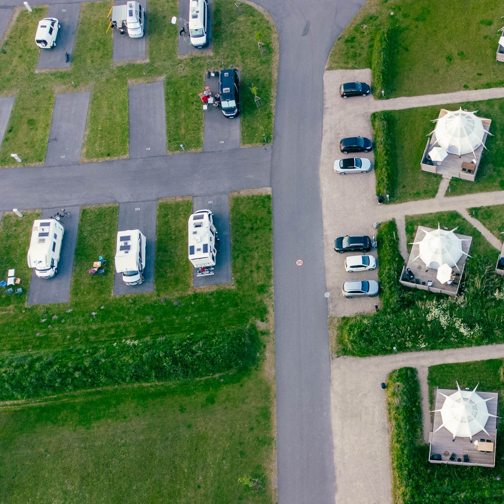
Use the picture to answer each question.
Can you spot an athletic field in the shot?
Yes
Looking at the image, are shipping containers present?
No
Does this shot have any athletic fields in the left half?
Yes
